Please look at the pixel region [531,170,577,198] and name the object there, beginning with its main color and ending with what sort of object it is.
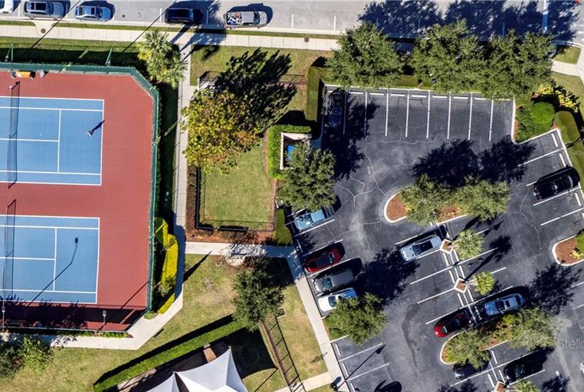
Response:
black car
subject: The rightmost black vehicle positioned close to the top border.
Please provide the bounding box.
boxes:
[164,6,203,25]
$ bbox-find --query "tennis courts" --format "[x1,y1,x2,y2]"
[0,215,101,304]
[0,96,104,185]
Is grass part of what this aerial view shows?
Yes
